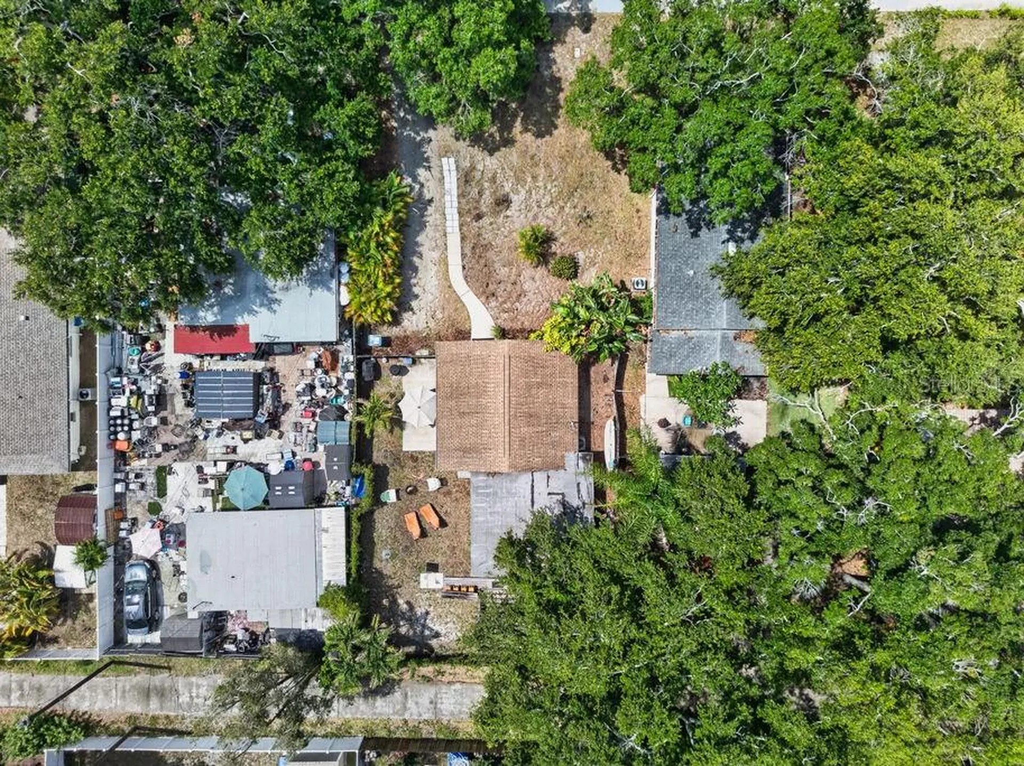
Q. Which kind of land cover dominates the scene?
trees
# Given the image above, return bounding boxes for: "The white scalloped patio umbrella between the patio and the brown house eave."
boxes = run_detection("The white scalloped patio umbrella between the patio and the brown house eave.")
[399,386,434,428]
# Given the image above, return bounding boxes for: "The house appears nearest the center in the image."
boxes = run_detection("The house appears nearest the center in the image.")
[434,341,580,473]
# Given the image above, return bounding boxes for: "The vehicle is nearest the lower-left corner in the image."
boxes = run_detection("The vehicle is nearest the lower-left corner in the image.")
[115,562,156,635]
